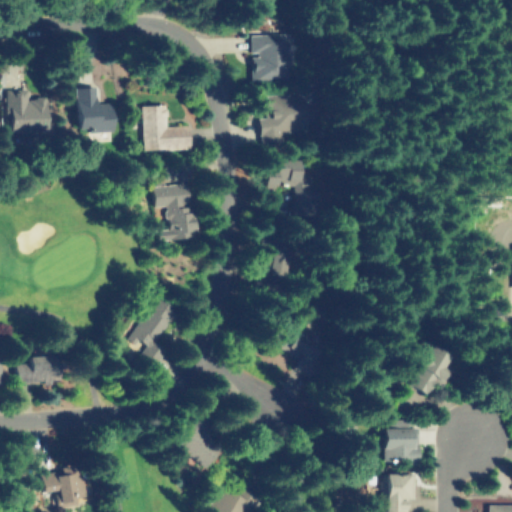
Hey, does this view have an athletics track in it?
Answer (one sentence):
No, this view has no athletics track in it.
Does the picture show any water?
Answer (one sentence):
No, no water is visible.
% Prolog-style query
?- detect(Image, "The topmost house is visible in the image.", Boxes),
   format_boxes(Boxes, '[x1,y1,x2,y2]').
[249,35,284,82]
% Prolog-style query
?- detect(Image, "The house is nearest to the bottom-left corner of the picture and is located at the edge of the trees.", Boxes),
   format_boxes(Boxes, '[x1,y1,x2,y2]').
[42,464,89,510]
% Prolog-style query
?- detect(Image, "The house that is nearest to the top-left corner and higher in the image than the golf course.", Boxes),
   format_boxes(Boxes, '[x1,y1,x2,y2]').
[8,90,52,132]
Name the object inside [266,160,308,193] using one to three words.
house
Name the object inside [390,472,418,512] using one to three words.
house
